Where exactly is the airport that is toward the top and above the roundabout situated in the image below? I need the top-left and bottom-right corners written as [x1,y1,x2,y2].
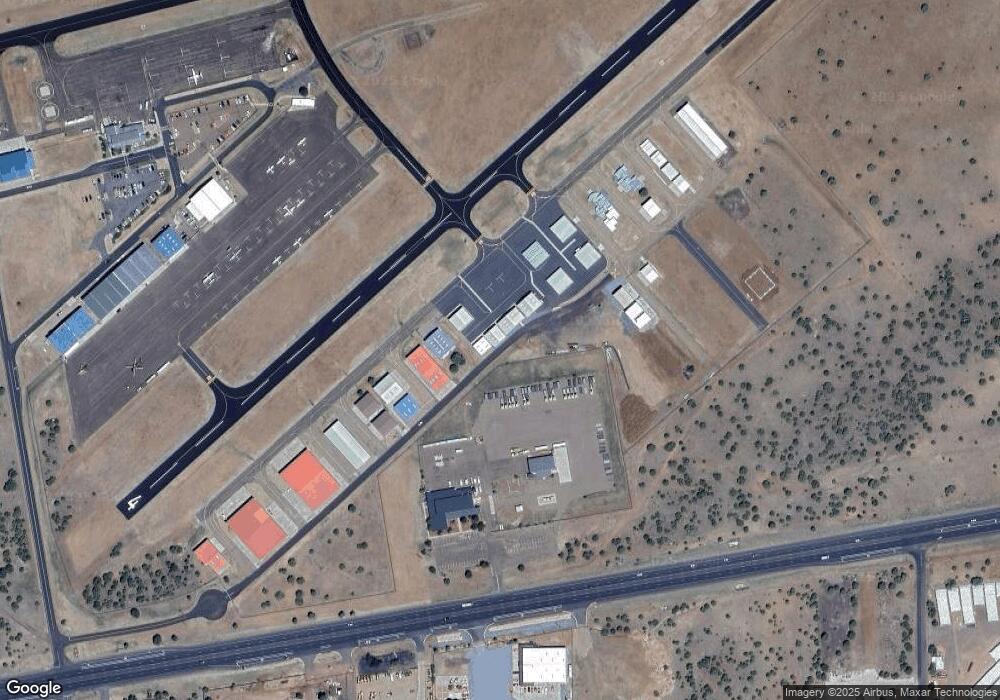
[0,0,772,520]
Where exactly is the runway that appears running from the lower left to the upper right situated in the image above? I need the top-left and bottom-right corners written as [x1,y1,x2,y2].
[117,0,698,519]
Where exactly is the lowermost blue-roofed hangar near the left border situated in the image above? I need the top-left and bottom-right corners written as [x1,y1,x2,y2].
[47,308,96,353]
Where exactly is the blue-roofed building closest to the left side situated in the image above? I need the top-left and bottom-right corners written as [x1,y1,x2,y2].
[0,148,31,180]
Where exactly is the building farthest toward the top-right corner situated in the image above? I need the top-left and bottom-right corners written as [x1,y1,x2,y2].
[677,103,729,157]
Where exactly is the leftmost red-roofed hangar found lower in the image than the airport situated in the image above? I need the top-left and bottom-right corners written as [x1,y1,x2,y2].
[193,540,225,570]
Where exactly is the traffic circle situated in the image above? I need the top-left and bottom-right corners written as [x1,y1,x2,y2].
[186,588,231,620]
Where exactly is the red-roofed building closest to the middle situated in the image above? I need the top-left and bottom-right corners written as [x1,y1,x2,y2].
[406,345,449,391]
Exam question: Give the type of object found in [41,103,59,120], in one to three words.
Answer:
helipad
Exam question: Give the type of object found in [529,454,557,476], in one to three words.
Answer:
building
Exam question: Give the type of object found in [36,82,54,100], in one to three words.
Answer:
helipad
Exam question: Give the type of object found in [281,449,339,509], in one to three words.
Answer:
hangar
